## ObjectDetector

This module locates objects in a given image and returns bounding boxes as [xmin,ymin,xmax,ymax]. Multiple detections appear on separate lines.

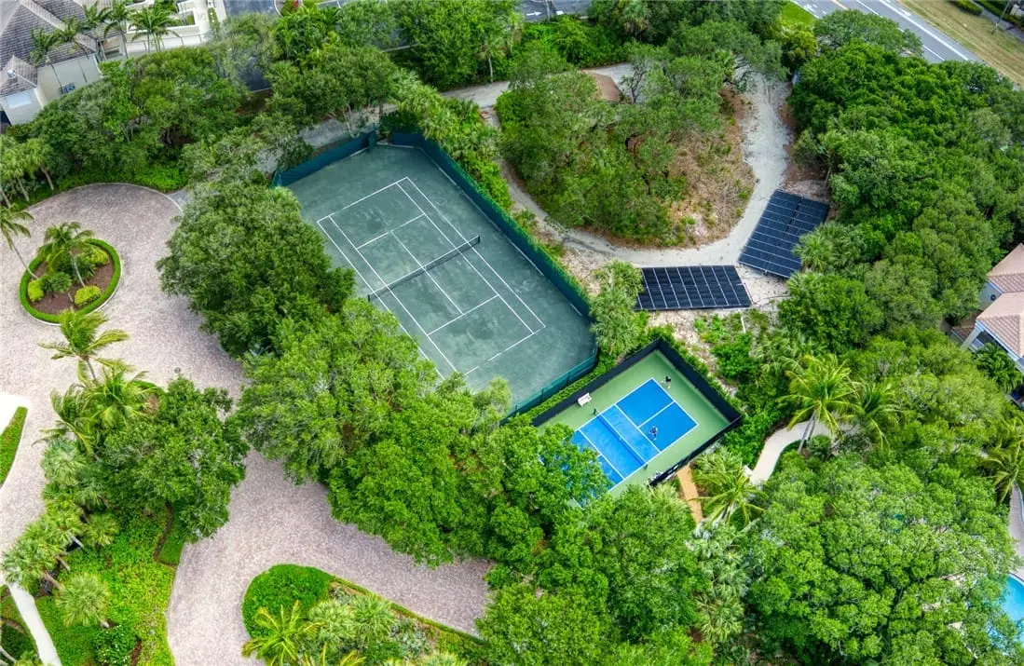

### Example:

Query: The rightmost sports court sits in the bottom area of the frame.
[445,351,731,553]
